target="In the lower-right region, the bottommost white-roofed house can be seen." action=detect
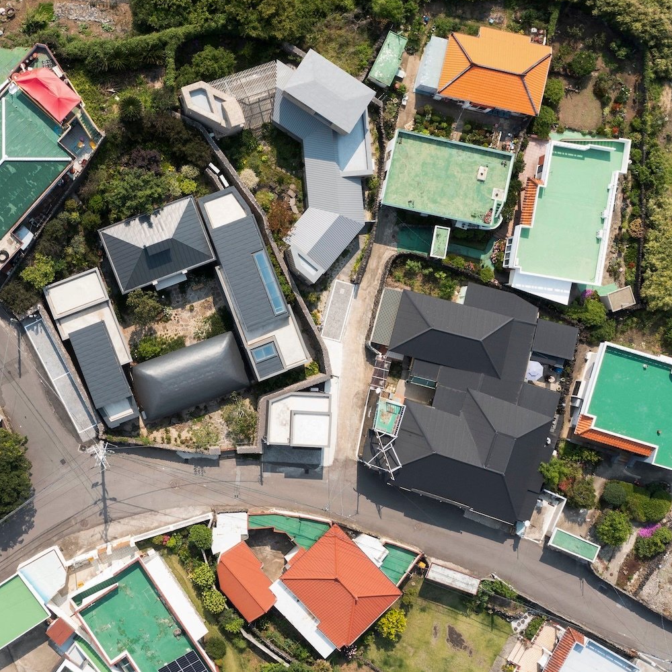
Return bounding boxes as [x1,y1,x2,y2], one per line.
[563,635,640,672]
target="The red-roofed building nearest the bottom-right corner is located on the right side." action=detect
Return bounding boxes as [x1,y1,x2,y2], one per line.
[531,621,581,672]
